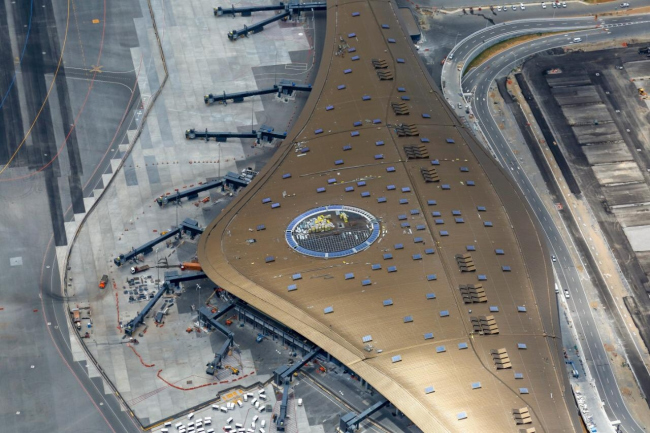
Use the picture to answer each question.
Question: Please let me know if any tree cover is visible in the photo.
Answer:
No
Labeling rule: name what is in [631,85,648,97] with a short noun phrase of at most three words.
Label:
vehicle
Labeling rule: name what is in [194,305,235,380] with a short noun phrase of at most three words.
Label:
jet bridge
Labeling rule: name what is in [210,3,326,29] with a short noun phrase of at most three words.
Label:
jet bridge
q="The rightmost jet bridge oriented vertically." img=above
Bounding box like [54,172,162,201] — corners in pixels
[268,354,310,433]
